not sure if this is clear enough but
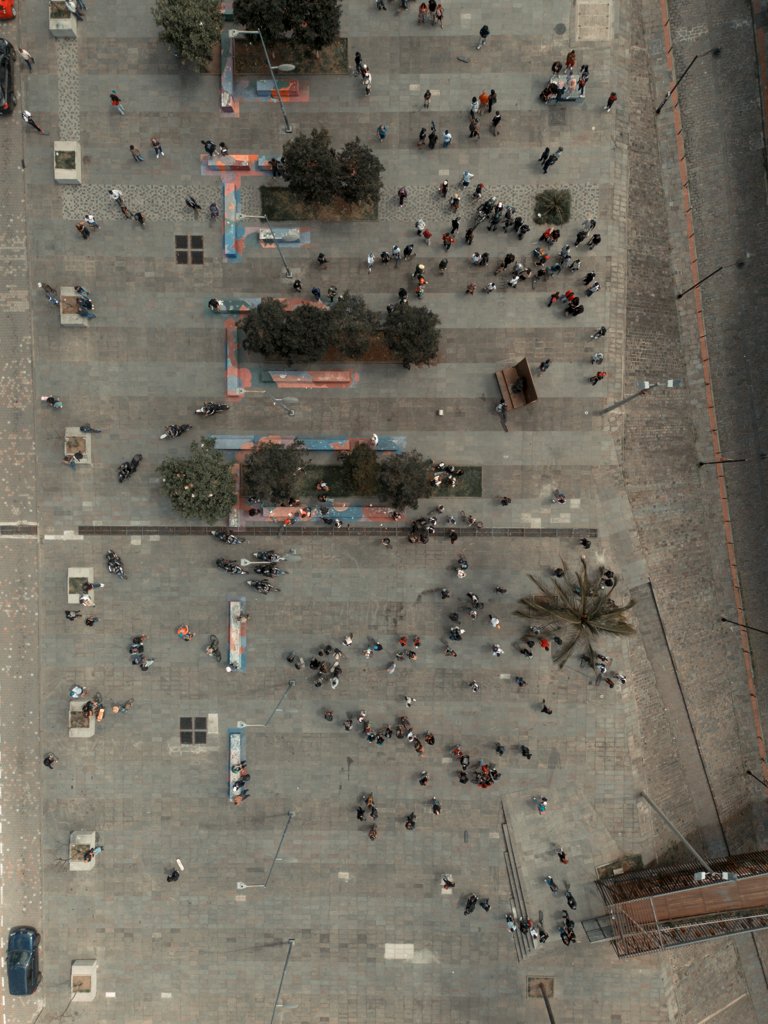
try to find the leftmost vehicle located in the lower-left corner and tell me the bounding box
[0,929,39,992]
